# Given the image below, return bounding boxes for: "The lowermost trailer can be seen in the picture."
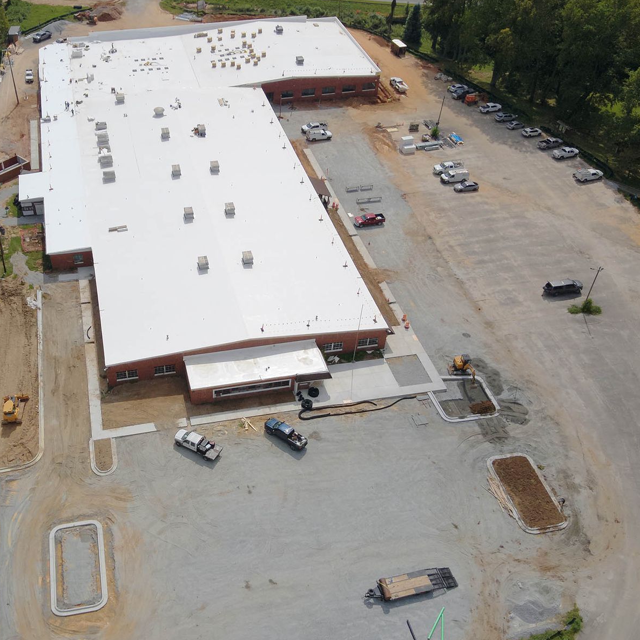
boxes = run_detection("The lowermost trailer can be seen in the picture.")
[371,568,457,601]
